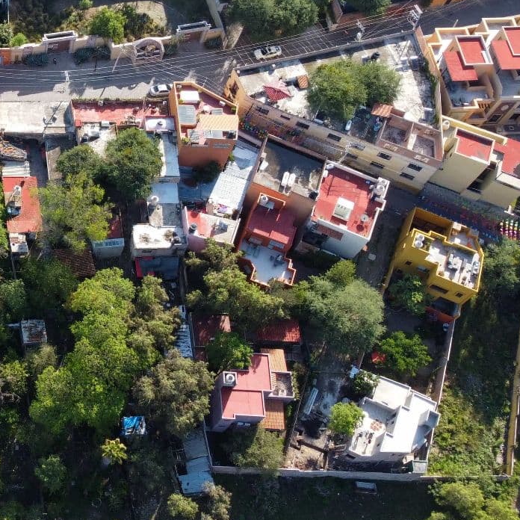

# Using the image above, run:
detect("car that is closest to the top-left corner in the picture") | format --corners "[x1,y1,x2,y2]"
[147,85,171,98]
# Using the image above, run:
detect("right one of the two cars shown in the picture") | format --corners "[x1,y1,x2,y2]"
[255,44,280,58]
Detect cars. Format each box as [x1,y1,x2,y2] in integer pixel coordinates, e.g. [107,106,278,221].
[255,44,280,58]
[147,85,171,98]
